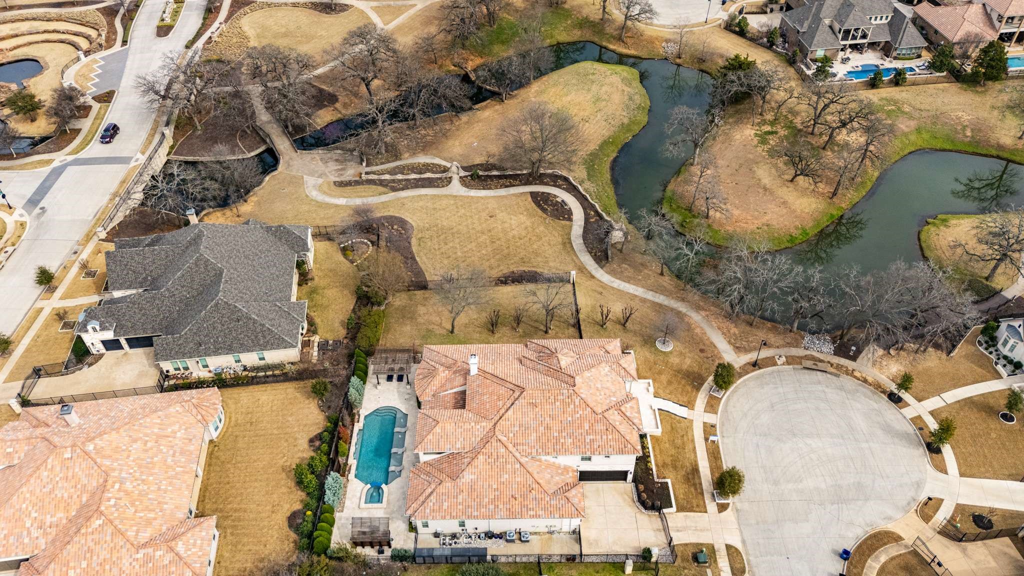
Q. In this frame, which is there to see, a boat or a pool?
pool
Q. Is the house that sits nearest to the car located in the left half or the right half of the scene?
left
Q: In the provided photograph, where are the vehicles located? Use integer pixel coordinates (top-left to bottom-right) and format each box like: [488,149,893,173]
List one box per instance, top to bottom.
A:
[100,123,117,141]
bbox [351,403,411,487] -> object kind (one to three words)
swimming pool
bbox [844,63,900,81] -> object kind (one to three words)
swimming pool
